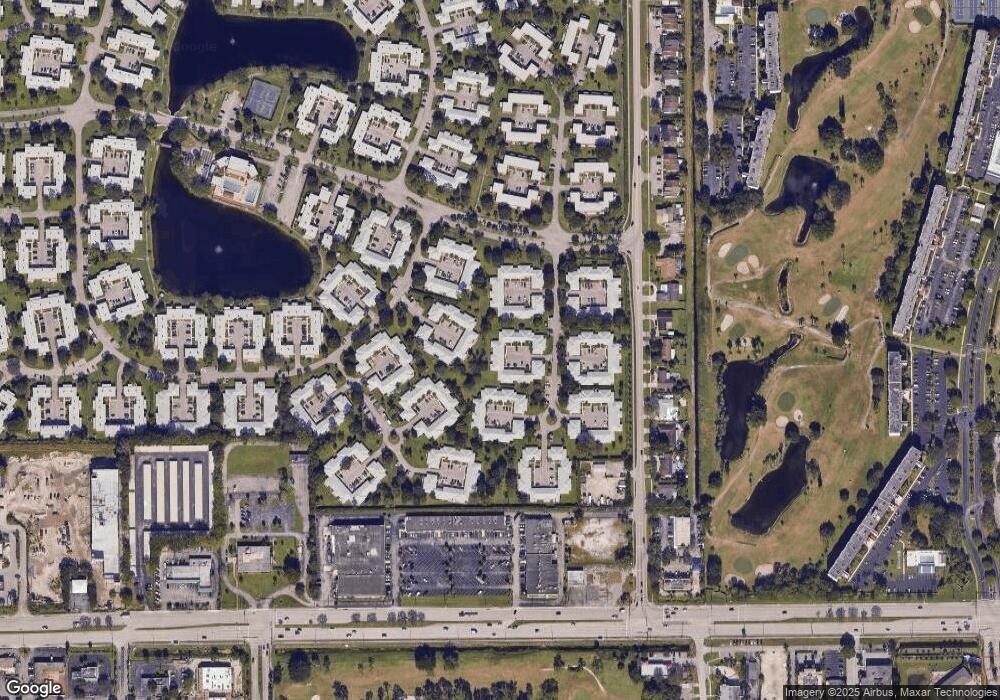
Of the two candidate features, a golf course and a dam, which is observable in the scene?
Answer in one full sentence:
It is a golf course that can be seen here.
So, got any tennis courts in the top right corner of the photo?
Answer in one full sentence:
Yes, I can see a tennis court in the top right corner of the photo.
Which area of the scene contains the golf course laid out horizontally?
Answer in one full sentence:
The golf course laid out horizontally appears toward the bottom of the photo.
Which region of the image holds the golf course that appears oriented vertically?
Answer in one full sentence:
The golf course that appears oriented vertically is in the right part of the image.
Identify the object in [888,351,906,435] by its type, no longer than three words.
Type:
building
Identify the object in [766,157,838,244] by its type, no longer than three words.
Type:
pond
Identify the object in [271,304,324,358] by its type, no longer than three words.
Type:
house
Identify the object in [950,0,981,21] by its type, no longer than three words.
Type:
tennis court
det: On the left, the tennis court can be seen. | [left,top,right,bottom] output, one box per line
[246,79,284,119]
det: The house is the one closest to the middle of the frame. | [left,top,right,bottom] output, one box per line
[488,328,546,384]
